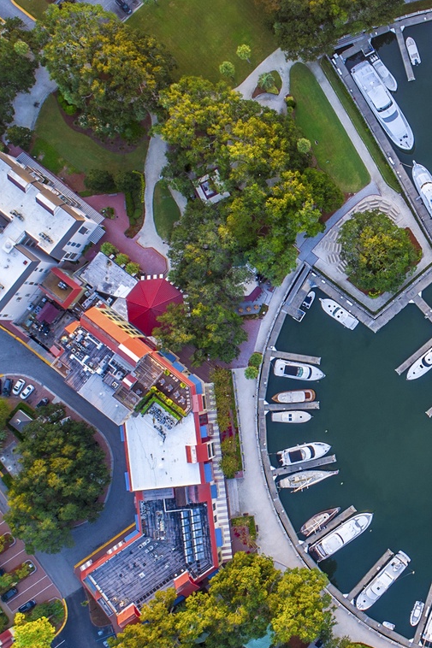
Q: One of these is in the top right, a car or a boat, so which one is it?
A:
boat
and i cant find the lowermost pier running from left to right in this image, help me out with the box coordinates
[271,454,338,480]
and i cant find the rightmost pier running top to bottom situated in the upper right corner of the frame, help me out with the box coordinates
[391,25,415,82]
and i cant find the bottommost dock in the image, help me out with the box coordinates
[409,584,432,648]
